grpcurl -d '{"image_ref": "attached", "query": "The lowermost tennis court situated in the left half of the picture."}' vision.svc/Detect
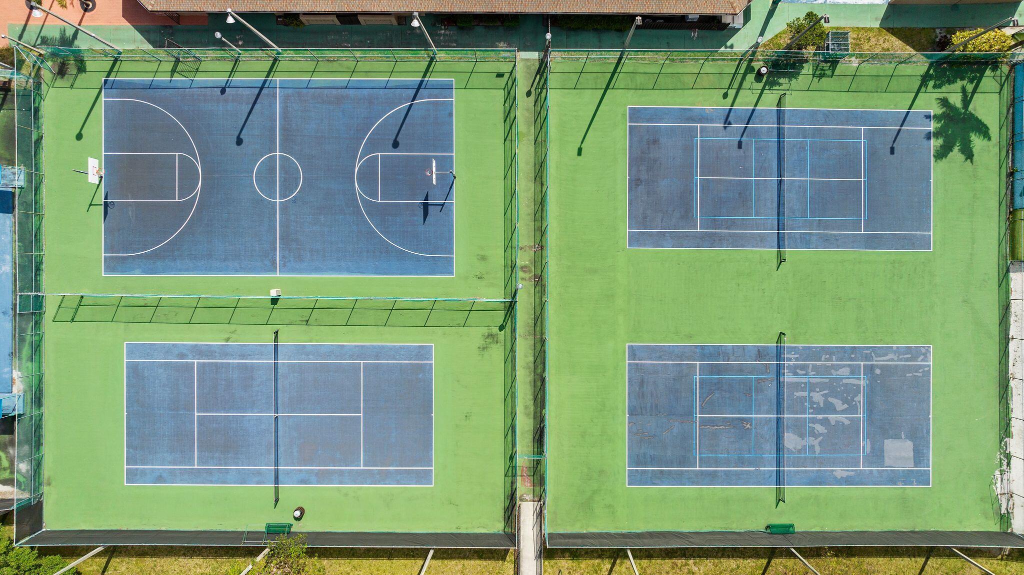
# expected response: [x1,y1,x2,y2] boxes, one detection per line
[124,342,434,486]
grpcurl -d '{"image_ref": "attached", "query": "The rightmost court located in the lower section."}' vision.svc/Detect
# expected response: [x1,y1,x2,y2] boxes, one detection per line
[627,344,932,487]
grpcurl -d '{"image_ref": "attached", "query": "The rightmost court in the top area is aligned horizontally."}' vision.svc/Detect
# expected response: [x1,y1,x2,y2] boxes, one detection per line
[627,106,933,251]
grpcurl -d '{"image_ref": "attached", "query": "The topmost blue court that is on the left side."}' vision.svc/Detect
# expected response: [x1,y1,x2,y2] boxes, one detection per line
[102,78,455,276]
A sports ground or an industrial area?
sports ground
